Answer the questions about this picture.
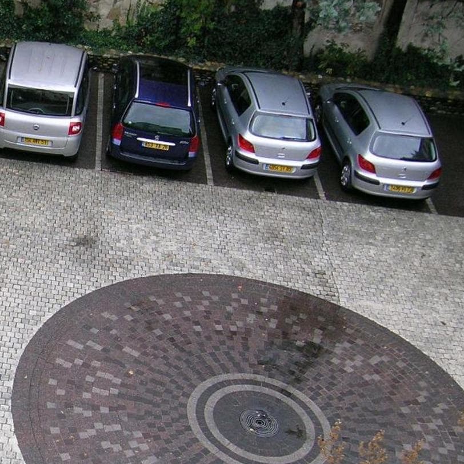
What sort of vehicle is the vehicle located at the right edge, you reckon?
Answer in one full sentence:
The vehicle located at the right edge appears to be an automobile.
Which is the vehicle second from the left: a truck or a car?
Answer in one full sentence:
What you see as the vehicle second from the left is a car.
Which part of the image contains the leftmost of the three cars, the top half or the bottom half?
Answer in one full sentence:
The leftmost of the three cars is in the top half of the image.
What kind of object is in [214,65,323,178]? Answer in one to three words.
car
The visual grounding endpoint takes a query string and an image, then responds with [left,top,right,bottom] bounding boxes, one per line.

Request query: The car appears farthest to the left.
[110,54,208,171]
